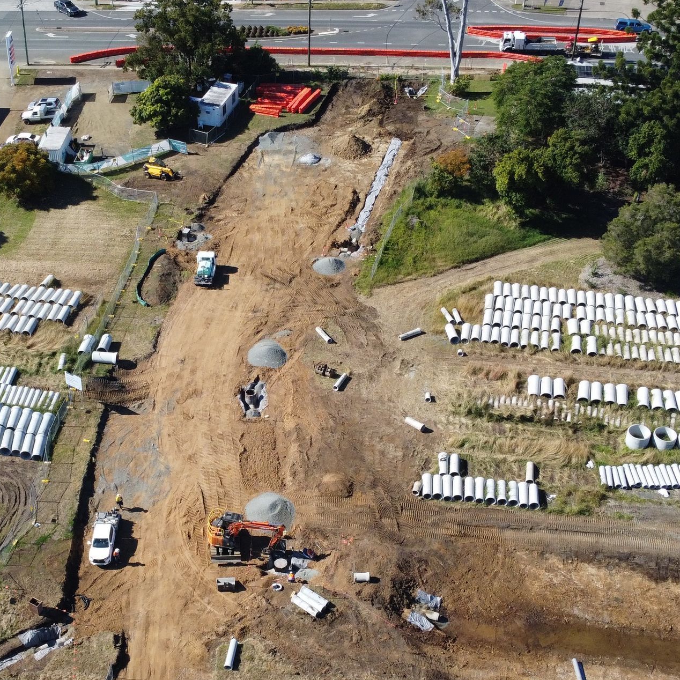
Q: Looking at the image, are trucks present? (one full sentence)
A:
Yes, a truck appears in the view.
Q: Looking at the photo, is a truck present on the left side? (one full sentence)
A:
Yes, a truck can be seen on the left side.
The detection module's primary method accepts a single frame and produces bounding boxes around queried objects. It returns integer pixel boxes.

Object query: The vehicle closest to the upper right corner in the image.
[616,15,653,34]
